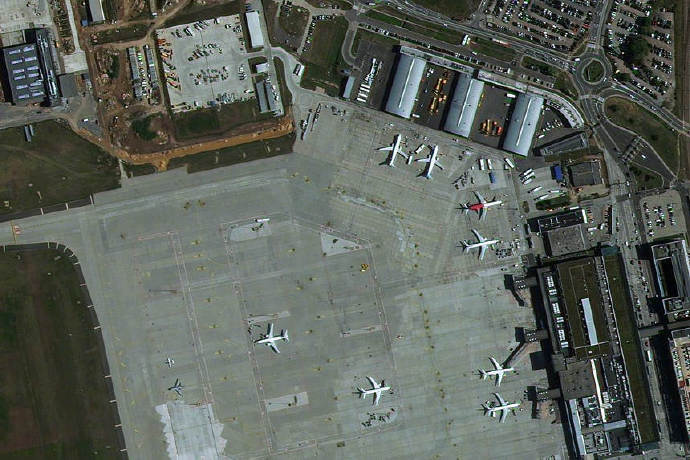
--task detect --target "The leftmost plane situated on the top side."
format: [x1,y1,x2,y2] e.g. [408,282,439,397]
[379,134,410,167]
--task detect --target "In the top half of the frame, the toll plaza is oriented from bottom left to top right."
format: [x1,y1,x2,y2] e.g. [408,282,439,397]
[619,134,645,162]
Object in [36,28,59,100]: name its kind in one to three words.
building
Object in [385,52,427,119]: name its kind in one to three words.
hangar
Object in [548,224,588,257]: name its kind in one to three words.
building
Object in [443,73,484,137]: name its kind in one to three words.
hangar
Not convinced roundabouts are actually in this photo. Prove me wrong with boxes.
[573,50,615,92]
